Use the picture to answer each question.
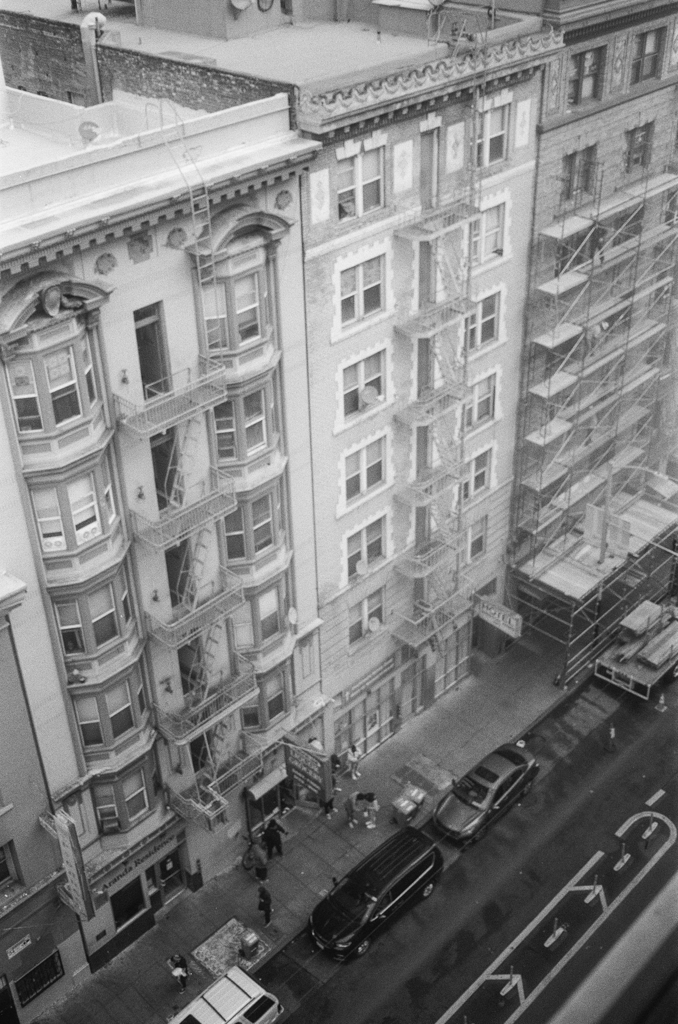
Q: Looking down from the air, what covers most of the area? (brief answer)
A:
buildings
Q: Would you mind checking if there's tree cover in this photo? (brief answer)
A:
No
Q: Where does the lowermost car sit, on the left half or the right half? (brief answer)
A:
left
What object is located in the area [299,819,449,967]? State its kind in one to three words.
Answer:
car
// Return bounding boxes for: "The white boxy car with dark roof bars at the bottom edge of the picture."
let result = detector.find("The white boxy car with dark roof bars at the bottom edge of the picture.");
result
[166,959,286,1024]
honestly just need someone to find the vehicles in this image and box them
[430,733,552,844]
[166,959,286,1024]
[299,819,449,967]
[596,593,678,703]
